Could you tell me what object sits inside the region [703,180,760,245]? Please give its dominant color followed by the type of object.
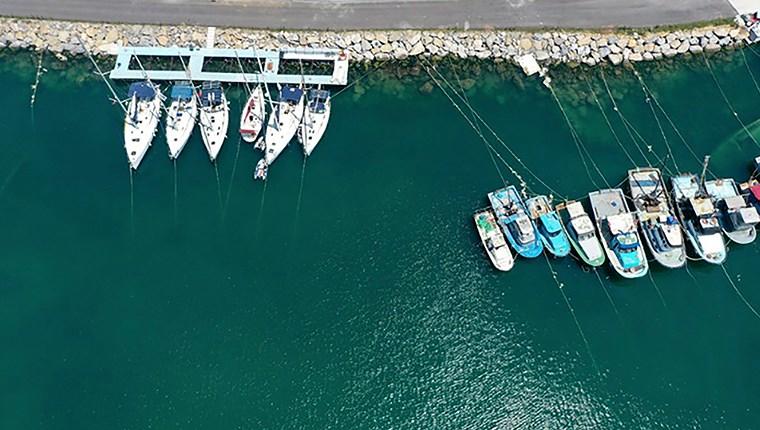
white boat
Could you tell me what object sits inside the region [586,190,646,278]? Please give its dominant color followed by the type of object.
white boat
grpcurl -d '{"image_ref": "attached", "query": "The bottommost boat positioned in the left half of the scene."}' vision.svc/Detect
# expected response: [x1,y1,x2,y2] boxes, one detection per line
[254,157,269,180]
